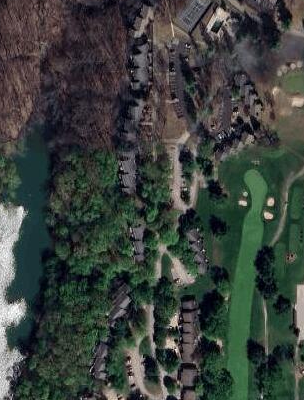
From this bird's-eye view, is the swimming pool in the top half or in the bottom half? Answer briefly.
top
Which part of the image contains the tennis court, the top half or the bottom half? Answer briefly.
top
